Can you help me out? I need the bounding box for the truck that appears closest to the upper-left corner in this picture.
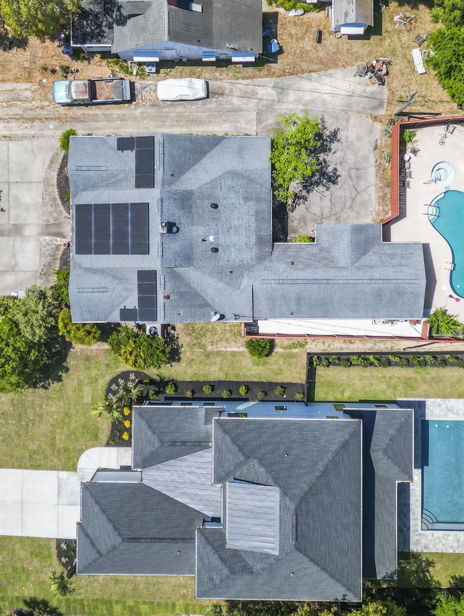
[52,71,133,106]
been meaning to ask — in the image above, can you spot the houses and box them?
[68,134,426,324]
[71,0,262,65]
[294,0,373,41]
[76,402,415,603]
